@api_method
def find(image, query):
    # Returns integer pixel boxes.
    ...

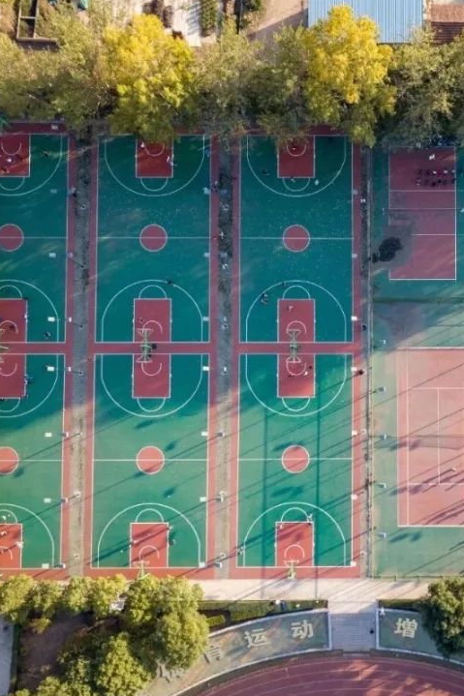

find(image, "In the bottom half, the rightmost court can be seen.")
[398,346,464,527]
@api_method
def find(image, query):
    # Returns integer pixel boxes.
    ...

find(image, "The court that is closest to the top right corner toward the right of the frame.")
[375,146,457,279]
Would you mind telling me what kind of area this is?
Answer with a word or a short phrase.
sports ground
